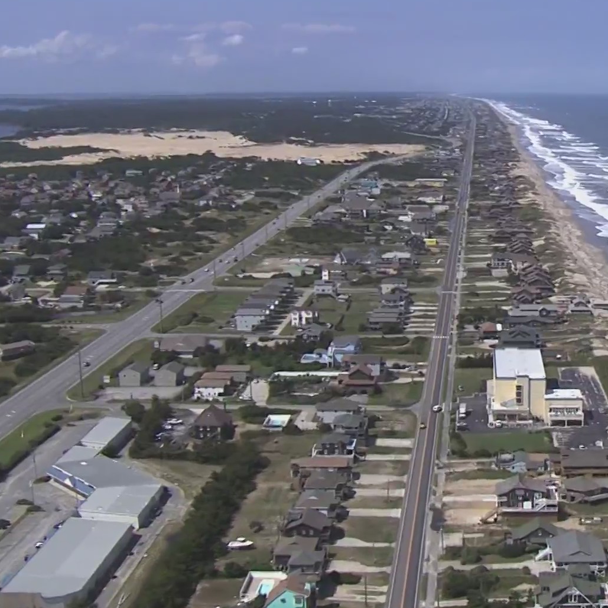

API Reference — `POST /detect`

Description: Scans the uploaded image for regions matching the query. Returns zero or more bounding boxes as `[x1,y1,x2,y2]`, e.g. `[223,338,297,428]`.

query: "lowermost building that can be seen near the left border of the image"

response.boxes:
[0,516,133,608]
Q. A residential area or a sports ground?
residential area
